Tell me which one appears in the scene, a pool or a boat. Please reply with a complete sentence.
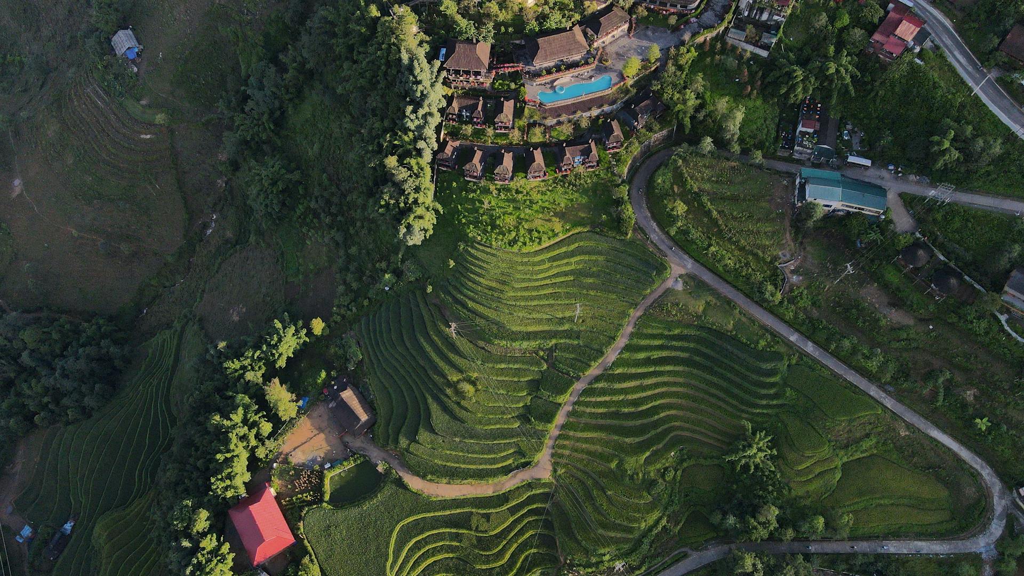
It is a pool that can be seen here.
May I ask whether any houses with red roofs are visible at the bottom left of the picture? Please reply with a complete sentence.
Yes, the scene does show a house with a red roof at the bottom left of the picture.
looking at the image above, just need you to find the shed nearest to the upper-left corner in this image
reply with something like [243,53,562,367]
[111,29,139,60]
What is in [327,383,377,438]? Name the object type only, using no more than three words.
shed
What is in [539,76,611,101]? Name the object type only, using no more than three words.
swimming pool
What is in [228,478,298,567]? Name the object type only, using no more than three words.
house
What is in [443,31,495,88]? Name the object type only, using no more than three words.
building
